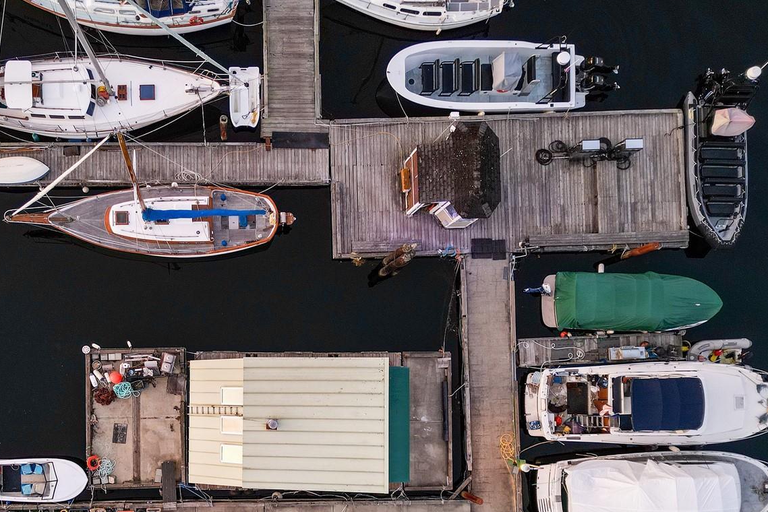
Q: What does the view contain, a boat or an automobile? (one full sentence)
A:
The image shows a boat.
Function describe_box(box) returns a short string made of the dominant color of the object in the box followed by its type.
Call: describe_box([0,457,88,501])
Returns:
white boat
